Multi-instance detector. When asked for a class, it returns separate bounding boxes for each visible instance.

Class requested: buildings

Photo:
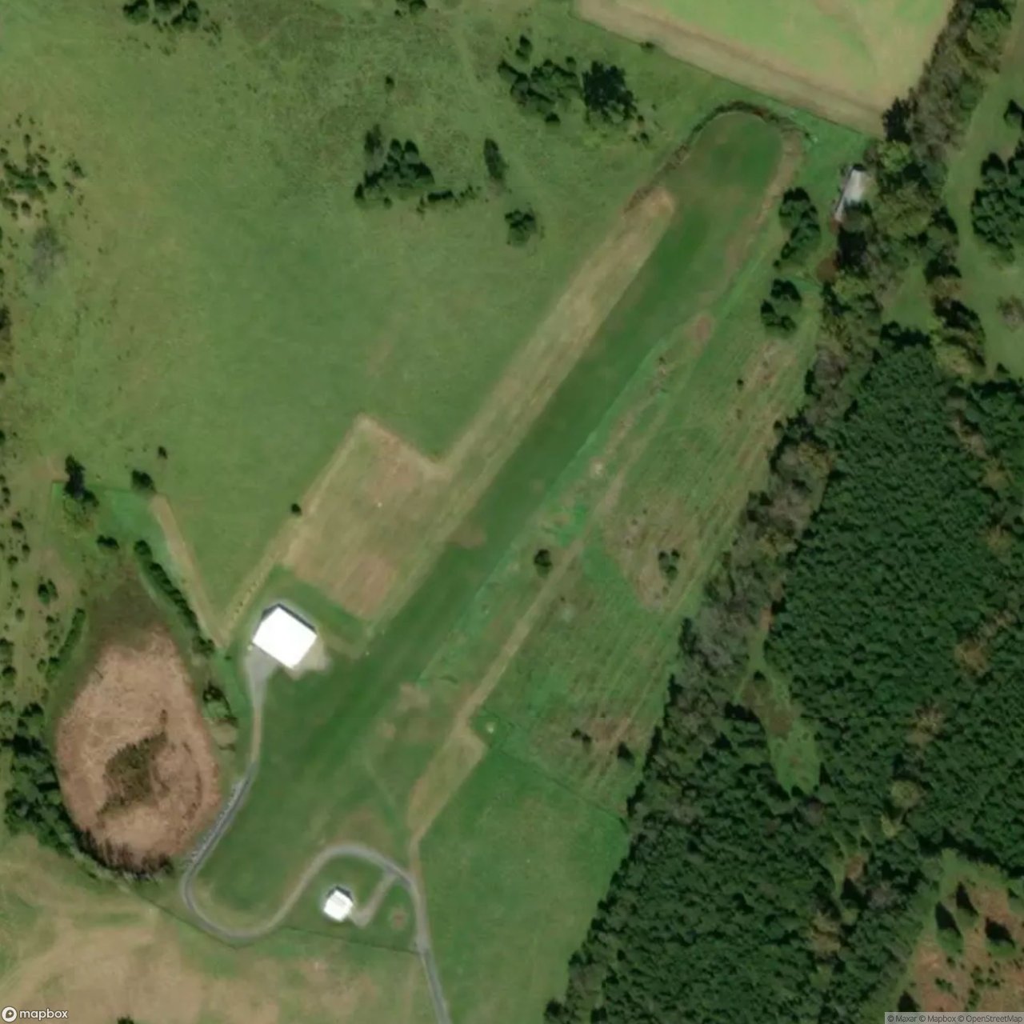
[254,607,317,669]
[835,167,869,219]
[323,891,353,922]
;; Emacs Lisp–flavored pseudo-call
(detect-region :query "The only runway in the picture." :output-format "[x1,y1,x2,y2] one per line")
[210,112,782,872]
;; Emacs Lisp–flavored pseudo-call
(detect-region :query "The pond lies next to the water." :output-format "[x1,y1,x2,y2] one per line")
[56,626,221,867]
